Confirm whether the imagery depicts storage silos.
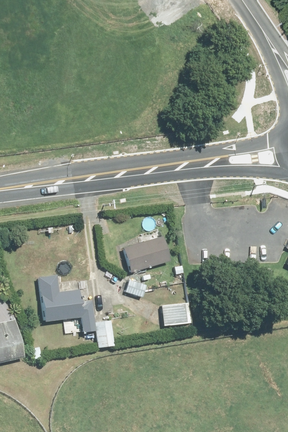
No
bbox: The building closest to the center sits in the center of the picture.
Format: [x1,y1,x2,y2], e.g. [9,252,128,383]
[124,236,170,272]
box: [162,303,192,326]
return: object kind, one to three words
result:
building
